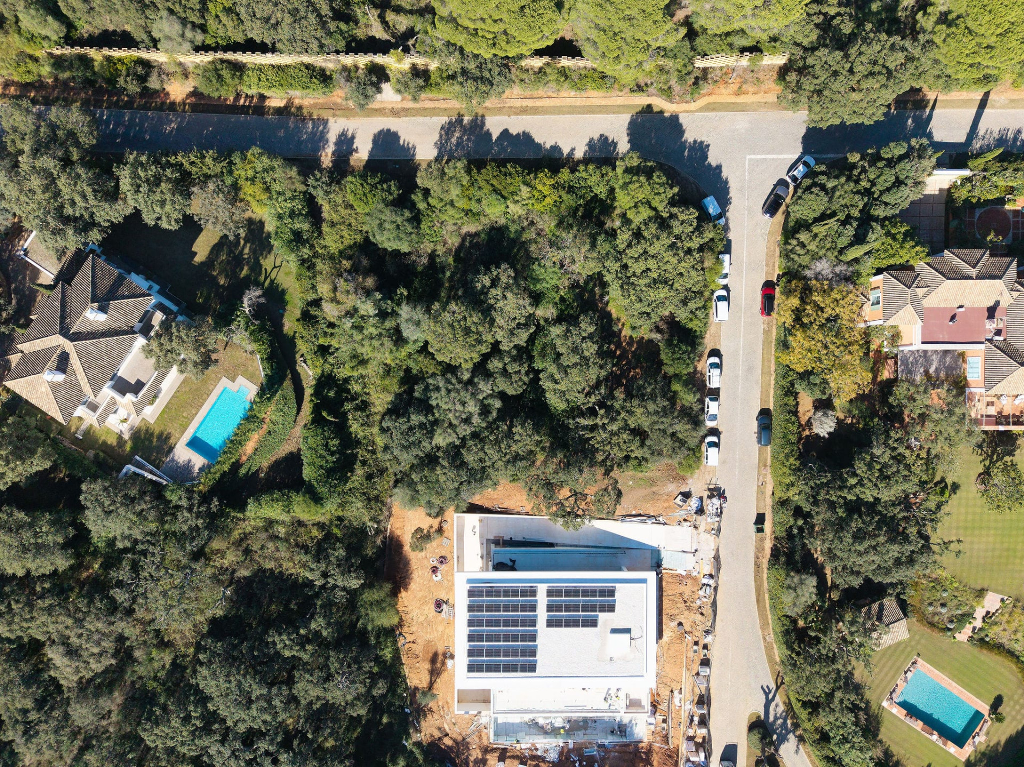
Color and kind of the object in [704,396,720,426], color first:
white car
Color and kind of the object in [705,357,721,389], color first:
white car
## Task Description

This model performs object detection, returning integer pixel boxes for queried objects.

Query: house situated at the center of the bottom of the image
[456,511,693,742]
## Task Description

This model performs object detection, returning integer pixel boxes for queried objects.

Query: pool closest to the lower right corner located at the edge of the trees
[881,655,993,762]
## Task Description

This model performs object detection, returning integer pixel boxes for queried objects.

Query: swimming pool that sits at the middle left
[161,375,256,483]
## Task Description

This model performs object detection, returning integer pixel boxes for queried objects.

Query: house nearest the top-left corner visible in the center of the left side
[0,245,195,440]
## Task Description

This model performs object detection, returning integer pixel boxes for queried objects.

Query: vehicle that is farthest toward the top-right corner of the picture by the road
[785,156,814,187]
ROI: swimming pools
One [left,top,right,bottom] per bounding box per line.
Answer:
[161,375,256,483]
[881,655,993,762]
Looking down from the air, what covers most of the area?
trees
